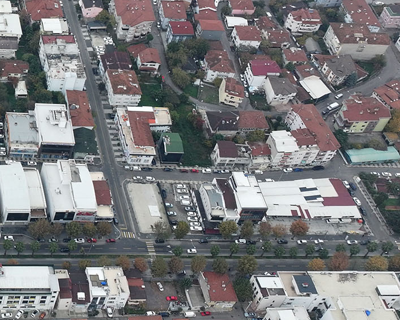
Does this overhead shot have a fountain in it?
No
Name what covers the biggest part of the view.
buildings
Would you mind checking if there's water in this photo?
No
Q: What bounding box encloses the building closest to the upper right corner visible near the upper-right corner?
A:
[380,3,400,26]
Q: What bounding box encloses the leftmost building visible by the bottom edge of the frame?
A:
[0,265,58,307]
